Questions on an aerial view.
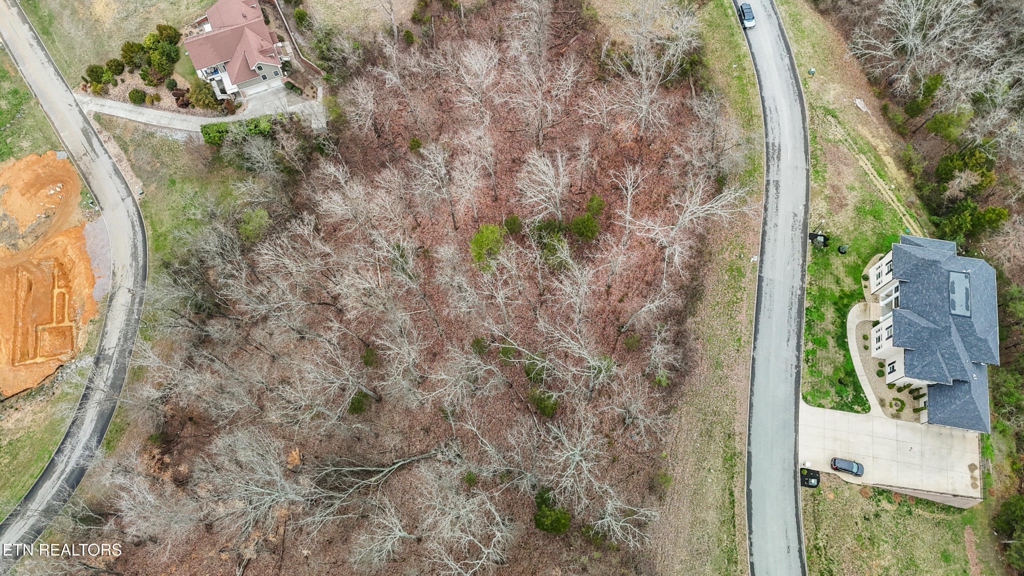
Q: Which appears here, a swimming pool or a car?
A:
car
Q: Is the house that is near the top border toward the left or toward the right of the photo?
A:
left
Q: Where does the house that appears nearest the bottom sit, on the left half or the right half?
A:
right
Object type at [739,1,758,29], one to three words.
car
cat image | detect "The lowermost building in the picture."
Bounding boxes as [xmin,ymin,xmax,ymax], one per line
[868,236,1000,436]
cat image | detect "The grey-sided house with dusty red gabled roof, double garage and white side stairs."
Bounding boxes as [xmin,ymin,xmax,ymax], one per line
[184,0,297,102]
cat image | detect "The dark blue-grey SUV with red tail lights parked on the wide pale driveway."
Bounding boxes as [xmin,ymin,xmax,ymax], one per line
[831,458,866,479]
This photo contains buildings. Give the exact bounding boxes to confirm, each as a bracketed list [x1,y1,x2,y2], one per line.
[868,236,1000,436]
[184,0,297,102]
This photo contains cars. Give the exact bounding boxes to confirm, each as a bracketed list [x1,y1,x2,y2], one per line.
[831,458,866,479]
[739,1,758,29]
